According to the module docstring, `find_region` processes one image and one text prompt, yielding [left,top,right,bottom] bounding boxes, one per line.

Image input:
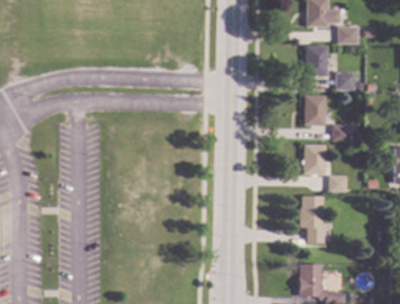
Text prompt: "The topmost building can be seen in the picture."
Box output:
[306,0,340,26]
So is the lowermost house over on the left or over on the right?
right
